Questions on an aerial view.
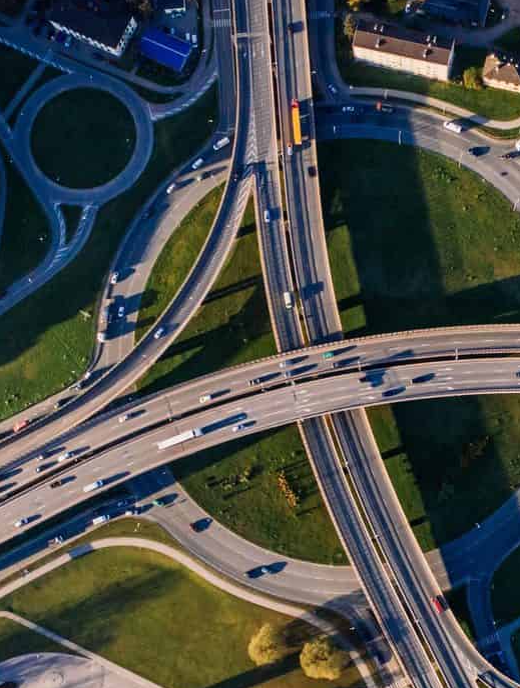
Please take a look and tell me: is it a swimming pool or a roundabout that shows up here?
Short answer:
roundabout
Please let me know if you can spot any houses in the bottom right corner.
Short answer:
No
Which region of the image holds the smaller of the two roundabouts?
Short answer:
top left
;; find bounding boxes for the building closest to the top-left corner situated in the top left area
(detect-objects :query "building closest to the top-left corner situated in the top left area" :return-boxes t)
[47,0,141,60]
